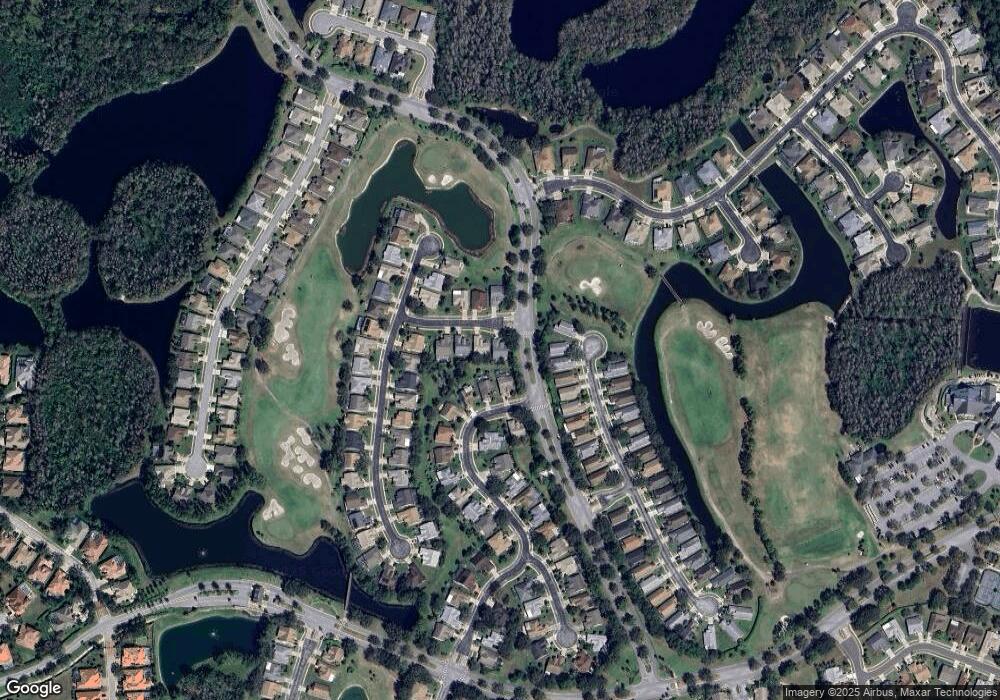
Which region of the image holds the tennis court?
bottom right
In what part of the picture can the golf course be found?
center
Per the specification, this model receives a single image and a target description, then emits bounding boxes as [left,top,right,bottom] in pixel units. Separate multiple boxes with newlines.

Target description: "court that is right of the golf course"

[974,567,1000,610]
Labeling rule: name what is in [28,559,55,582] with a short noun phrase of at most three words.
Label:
house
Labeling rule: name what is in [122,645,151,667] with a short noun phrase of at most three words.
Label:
house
